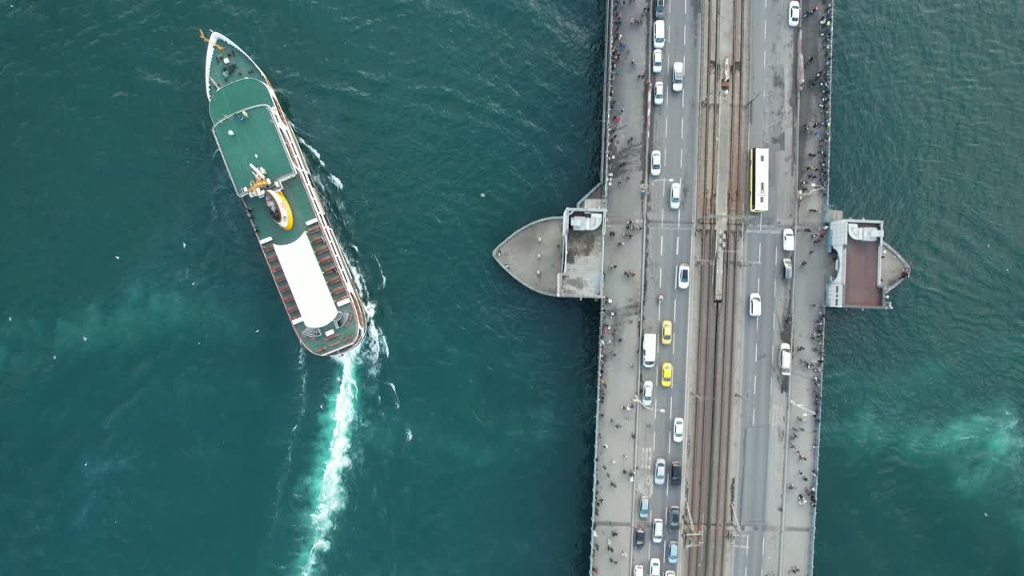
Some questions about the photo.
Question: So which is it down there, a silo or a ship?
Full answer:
There is a ship in the scene.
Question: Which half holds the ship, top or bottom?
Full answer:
The top half of the photo is where the ship is.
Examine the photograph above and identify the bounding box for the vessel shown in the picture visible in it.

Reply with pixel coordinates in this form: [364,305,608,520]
[199,28,367,355]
